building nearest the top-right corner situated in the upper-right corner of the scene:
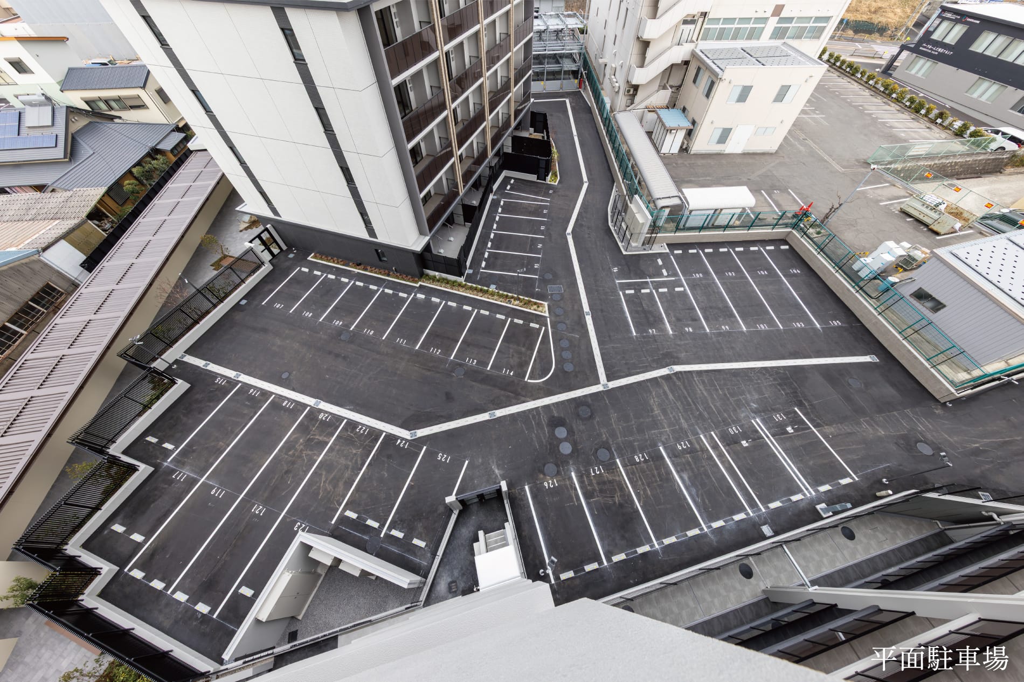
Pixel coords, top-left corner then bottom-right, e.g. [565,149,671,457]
[882,0,1024,124]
